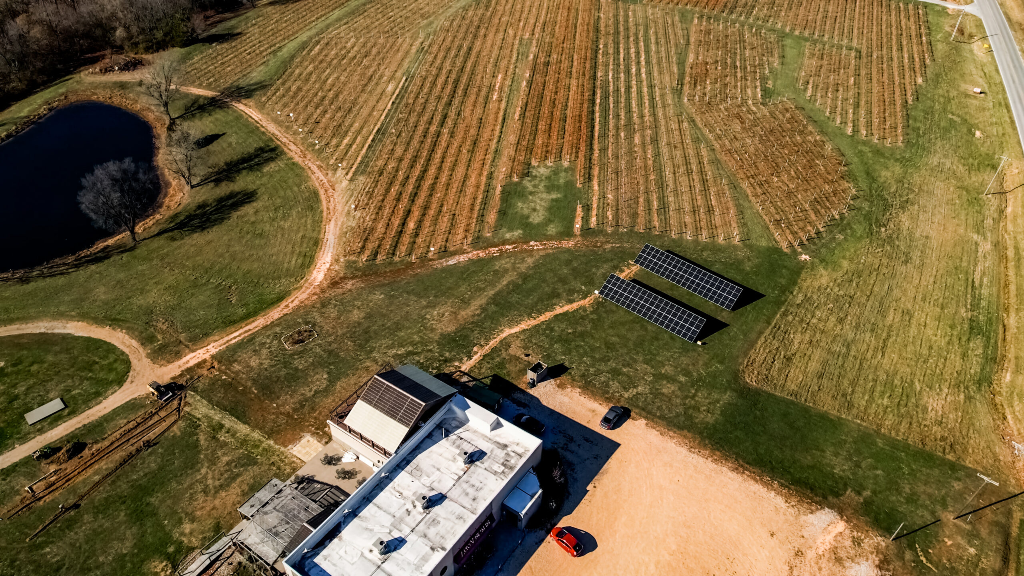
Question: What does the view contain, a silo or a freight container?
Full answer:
It is a freight container that can be seen here.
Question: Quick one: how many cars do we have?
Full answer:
In total, there are 3 cars in the scene.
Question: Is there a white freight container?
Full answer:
No, no white freight container is visible in the view.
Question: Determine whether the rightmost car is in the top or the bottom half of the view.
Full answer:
The bottom half of the photo is where the rightmost car is.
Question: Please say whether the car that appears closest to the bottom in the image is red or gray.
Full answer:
The color of the car that appears closest to the bottom is red.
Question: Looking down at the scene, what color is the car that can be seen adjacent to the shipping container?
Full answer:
The car that can be seen adjacent to the shipping container is black.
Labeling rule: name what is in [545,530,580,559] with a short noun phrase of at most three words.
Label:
car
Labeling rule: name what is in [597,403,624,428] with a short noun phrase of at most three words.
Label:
car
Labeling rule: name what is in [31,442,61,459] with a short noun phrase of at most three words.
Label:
work vehicle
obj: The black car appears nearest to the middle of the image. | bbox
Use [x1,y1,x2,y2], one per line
[509,410,543,432]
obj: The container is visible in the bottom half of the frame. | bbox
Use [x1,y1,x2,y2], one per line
[468,383,501,412]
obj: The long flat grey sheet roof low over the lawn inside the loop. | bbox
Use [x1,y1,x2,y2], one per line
[24,396,63,423]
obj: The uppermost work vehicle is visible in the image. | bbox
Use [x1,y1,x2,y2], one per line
[148,376,170,402]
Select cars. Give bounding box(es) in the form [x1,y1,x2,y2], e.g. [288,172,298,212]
[597,403,624,428]
[545,530,580,559]
[509,410,543,432]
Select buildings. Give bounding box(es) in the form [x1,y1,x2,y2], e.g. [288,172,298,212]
[283,391,544,576]
[24,396,63,423]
